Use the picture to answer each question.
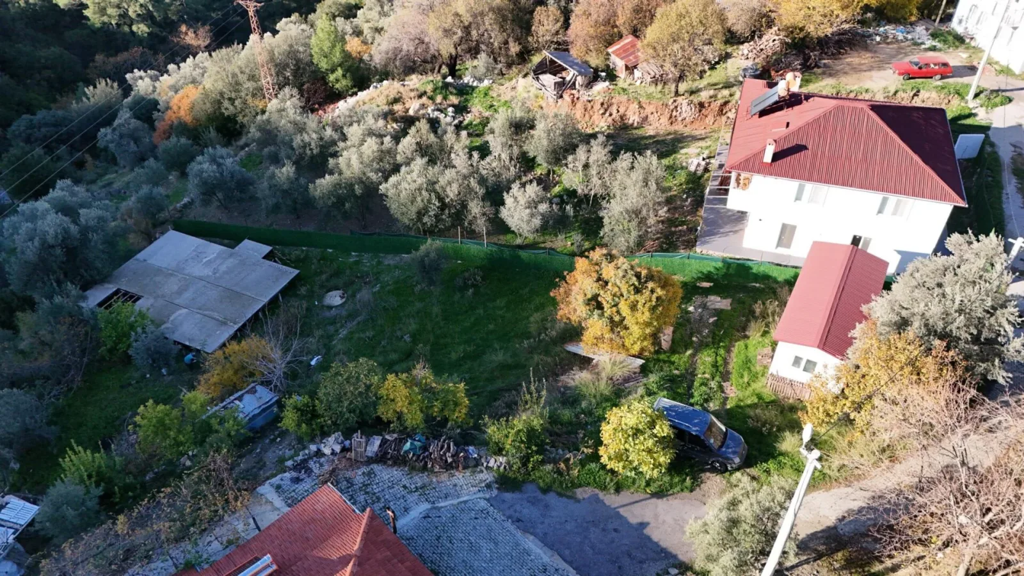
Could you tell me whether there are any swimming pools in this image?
No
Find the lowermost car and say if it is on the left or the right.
right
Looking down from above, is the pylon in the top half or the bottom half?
top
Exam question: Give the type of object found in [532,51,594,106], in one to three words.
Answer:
shed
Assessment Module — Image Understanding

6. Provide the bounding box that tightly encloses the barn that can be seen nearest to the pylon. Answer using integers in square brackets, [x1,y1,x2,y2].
[86,229,301,353]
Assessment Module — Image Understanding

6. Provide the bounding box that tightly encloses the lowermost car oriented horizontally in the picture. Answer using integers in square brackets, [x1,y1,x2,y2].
[886,53,957,79]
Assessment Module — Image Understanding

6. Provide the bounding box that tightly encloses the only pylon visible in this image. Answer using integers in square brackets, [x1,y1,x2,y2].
[226,0,286,129]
